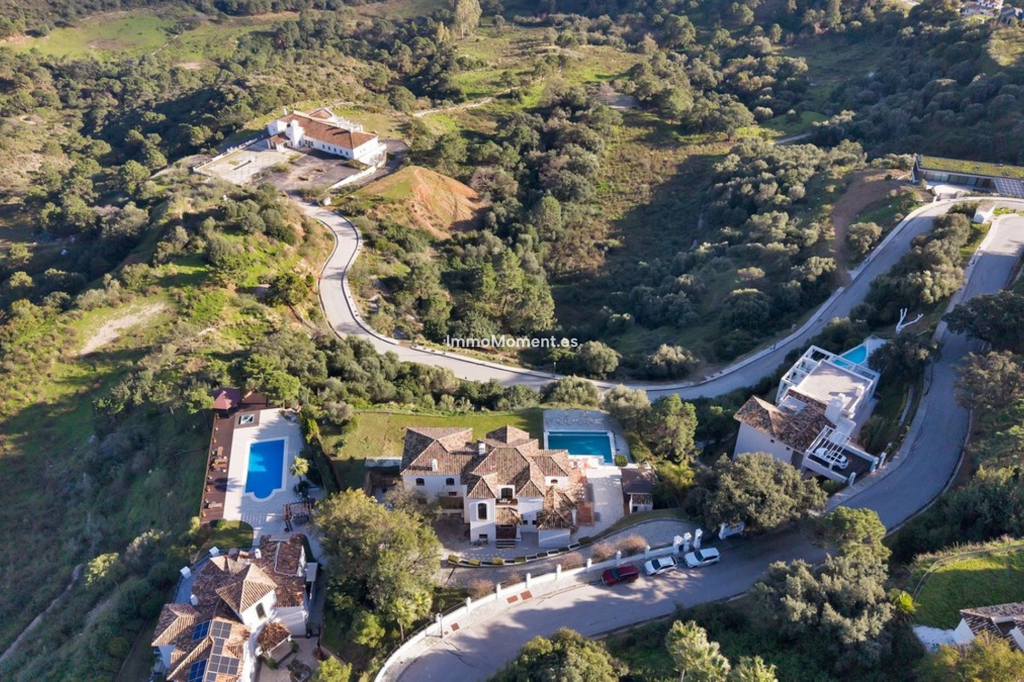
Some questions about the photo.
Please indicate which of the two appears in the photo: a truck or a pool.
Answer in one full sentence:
It is a pool that can be seen here.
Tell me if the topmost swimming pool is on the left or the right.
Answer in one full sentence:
The topmost swimming pool is on the right side of the image.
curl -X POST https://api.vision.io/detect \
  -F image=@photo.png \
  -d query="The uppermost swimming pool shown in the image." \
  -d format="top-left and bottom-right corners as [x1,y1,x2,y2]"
[834,343,870,369]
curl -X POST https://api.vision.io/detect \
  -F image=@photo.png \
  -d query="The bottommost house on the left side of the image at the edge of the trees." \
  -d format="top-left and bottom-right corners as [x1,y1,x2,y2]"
[149,533,317,682]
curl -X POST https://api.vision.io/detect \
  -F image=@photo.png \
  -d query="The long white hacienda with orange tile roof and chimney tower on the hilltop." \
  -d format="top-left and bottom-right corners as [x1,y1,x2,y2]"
[266,106,387,163]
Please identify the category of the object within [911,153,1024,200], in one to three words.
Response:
building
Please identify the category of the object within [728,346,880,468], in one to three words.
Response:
house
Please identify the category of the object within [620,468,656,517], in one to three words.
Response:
shed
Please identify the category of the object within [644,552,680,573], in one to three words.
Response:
car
